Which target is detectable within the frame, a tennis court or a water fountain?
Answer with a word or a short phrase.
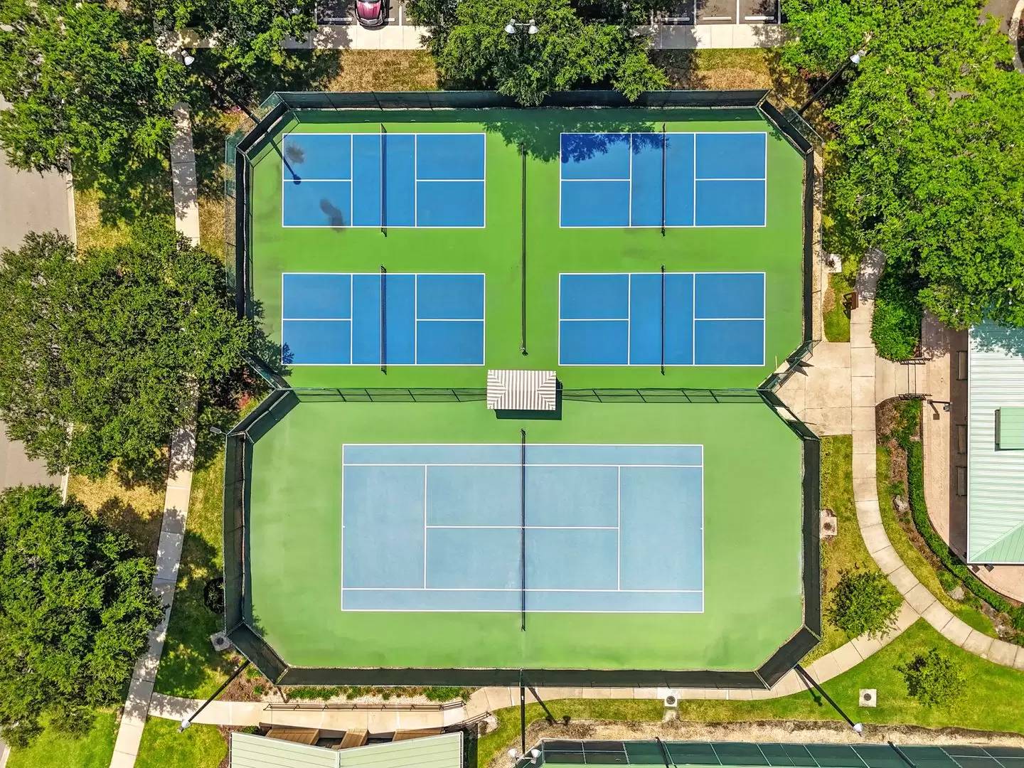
tennis court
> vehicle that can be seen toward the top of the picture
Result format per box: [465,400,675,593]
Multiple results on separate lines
[354,0,385,28]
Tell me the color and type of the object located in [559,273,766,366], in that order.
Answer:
blue sports court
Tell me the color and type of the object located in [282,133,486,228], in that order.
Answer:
blue sports court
